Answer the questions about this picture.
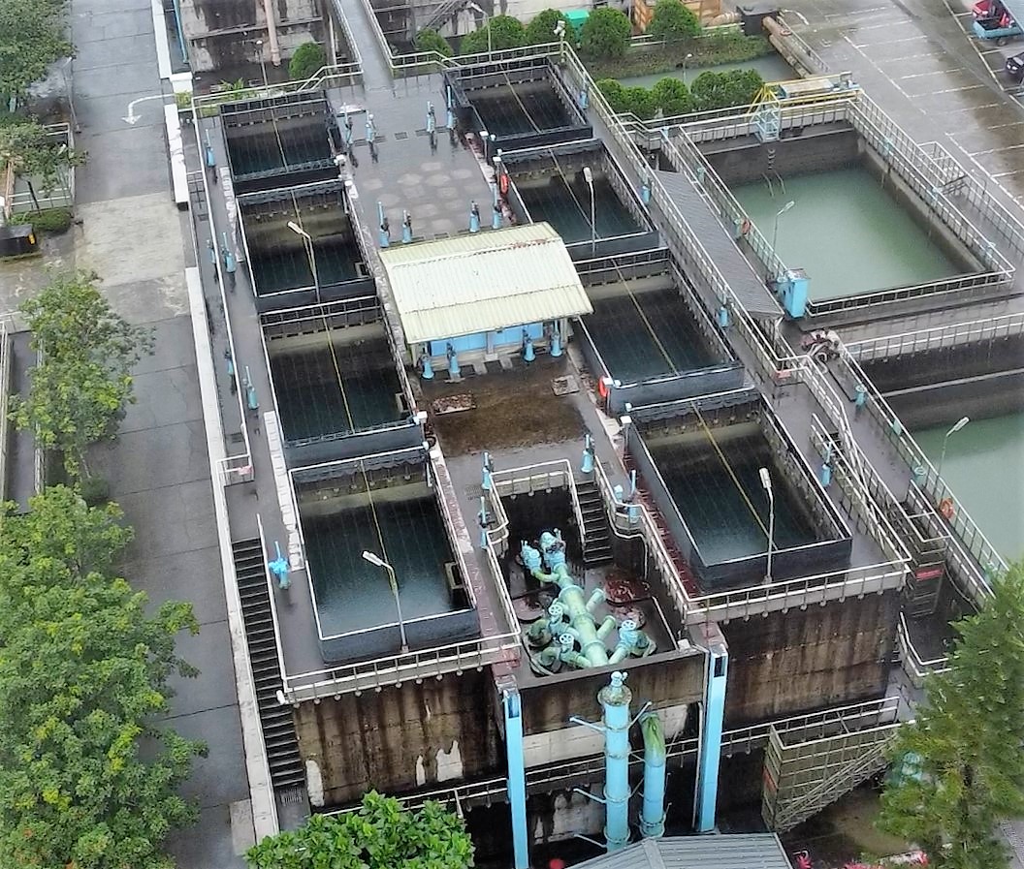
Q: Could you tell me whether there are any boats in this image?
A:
No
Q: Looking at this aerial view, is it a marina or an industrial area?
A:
industrial area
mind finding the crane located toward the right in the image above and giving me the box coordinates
[739,73,876,139]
